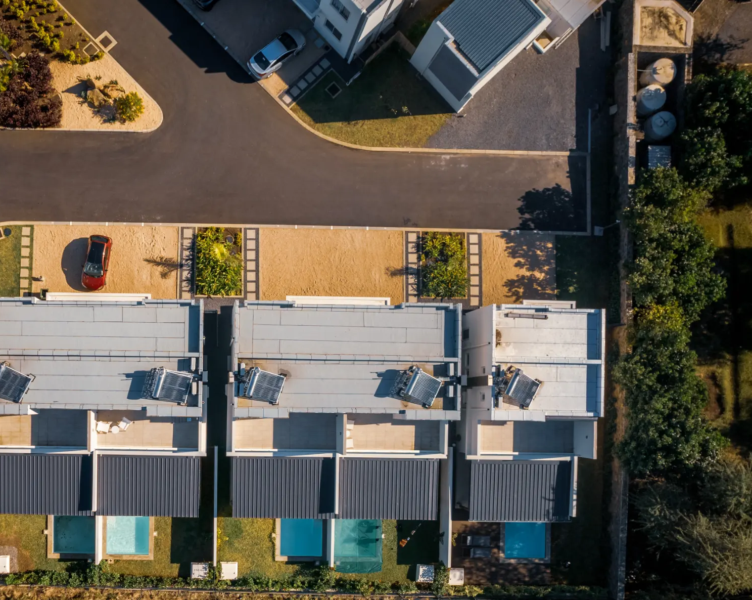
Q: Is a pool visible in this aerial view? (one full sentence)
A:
Yes, looking at the shot, I can spot a pool.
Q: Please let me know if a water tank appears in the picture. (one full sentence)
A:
Yes, this view includes a water tank.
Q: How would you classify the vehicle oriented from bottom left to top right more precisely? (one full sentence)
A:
From above, the vehicle oriented from bottom left to top right can be identified as a car.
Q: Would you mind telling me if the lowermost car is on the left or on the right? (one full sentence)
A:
The lowermost car is on the left side of the image.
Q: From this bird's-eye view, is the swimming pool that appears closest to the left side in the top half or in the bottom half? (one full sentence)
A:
The bottom half of the photo is where the swimming pool that appears closest to the left side is.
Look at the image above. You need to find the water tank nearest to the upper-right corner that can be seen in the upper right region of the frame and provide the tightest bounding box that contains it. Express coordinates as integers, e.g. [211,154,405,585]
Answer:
[641,60,674,89]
